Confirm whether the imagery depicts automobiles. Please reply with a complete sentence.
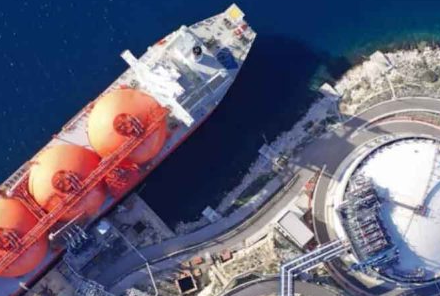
No, the frame has no automobile in it.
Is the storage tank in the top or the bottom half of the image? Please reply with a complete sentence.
You can find the storage tank in the bottom half.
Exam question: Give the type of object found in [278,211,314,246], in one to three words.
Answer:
building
